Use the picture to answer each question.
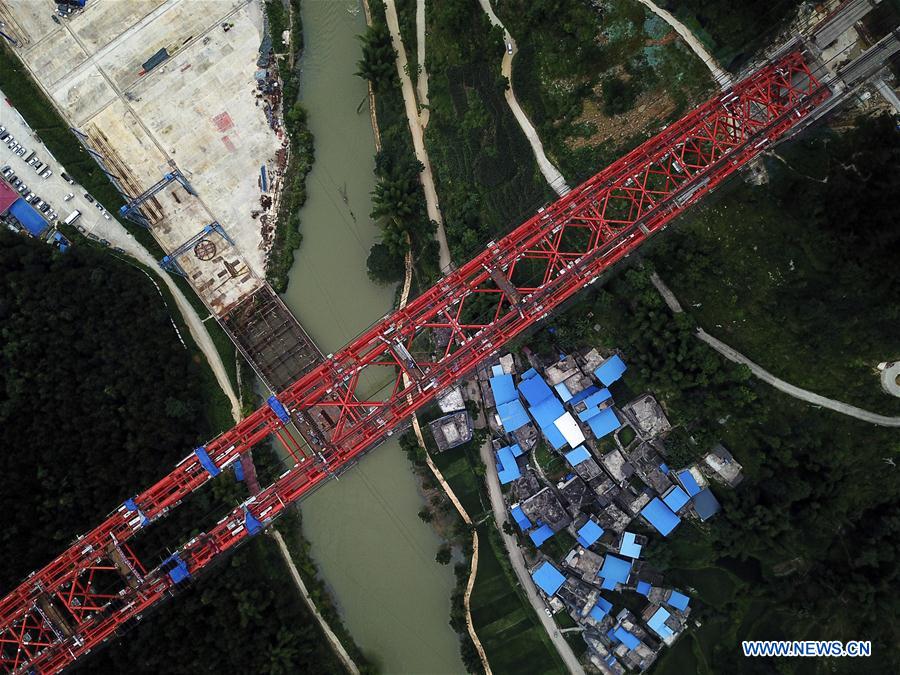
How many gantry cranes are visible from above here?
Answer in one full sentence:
In total, 2 gantry cranes can be seen.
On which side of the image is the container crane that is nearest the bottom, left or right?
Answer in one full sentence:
The container crane that is nearest the bottom sits on the left side.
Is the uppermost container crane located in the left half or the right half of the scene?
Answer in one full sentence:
The uppermost container crane appears in the left half of the scene.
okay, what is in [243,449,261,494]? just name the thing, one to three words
shed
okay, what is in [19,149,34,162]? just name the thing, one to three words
vehicle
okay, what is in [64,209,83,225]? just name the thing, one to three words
vehicle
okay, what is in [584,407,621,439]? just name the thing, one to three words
house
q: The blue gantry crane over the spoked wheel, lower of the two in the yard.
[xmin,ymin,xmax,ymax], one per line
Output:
[156,221,245,283]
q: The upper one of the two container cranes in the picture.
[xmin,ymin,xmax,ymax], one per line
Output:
[119,168,209,233]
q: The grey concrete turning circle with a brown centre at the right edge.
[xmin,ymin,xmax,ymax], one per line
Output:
[877,361,900,399]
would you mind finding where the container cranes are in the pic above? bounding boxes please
[119,168,209,233]
[156,221,245,283]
